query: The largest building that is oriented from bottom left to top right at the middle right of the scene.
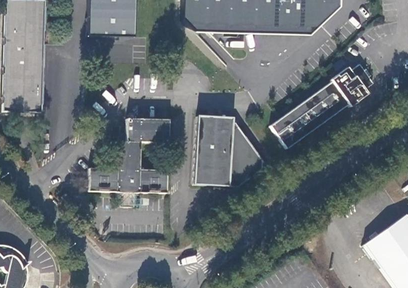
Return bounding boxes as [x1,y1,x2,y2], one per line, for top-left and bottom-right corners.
[268,80,351,150]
